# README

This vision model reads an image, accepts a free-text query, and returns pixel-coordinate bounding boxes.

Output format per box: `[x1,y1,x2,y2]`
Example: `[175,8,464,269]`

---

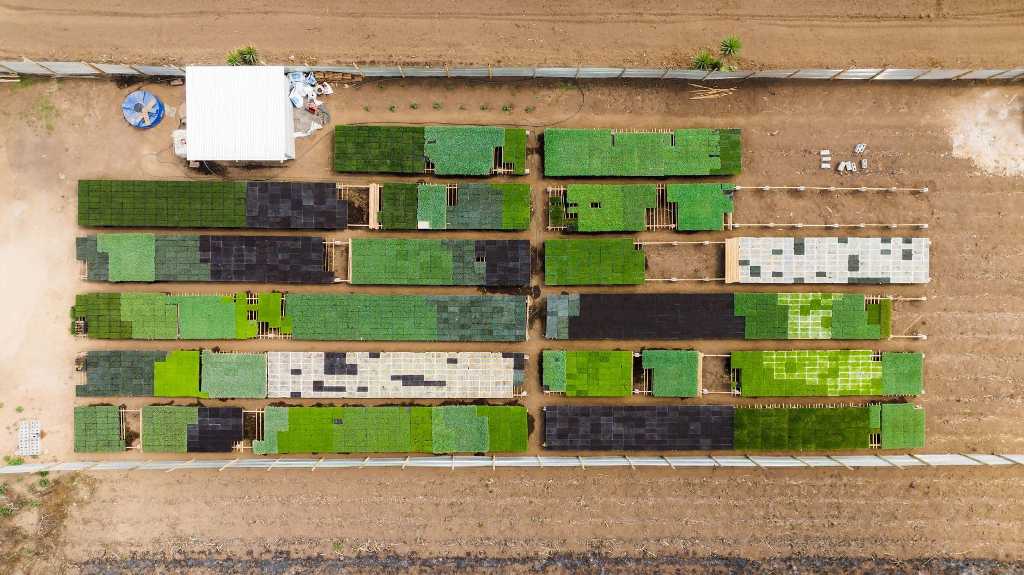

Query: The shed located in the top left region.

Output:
[186,66,295,163]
